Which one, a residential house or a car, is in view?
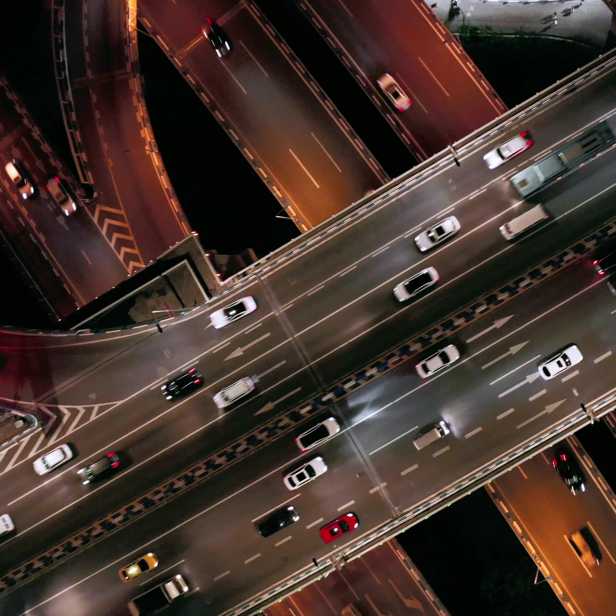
car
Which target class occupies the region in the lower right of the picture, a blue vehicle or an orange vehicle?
orange vehicle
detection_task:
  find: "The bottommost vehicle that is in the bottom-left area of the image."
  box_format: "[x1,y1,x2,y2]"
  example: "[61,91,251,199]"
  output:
[126,571,190,616]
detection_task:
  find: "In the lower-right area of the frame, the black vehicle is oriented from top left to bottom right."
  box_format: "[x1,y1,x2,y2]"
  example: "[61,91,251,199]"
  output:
[554,454,583,493]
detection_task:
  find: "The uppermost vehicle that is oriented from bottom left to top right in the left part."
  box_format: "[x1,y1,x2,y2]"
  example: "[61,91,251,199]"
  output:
[213,294,258,328]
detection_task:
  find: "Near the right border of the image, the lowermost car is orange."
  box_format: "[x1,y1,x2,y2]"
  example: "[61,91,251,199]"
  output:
[571,527,600,565]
